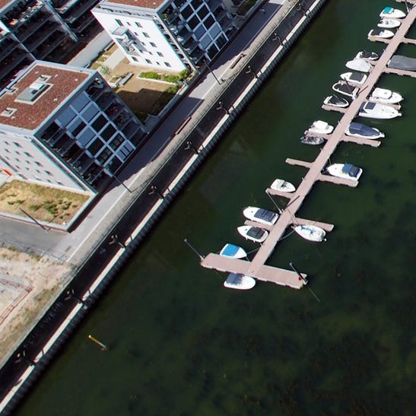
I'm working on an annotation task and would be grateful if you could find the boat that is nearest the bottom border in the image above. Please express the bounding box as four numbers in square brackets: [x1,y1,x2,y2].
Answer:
[221,279,258,292]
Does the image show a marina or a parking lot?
marina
